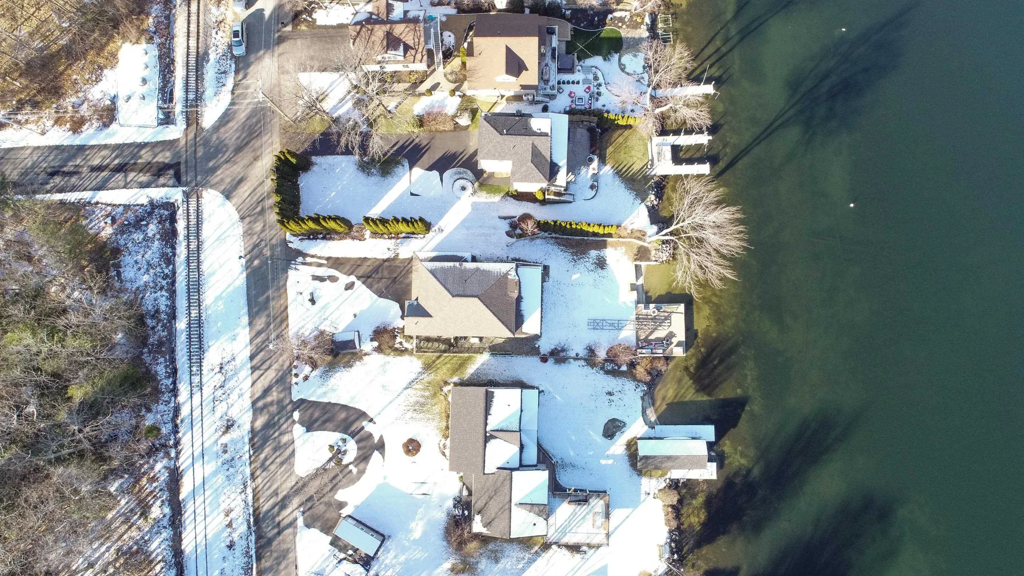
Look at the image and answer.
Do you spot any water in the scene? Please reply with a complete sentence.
Yes, water shows up in the scene.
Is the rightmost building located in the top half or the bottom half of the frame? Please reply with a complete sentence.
You can find the rightmost building in the bottom half.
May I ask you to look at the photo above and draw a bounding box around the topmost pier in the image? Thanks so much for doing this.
[653,66,720,99]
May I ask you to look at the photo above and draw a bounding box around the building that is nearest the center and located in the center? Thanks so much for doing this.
[404,252,541,337]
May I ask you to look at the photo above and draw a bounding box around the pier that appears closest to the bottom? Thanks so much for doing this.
[670,462,717,480]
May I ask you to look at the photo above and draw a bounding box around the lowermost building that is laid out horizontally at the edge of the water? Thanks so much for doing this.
[633,437,708,469]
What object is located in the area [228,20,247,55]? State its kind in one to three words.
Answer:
car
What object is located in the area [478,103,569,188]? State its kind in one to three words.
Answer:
house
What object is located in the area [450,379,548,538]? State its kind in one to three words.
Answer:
house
